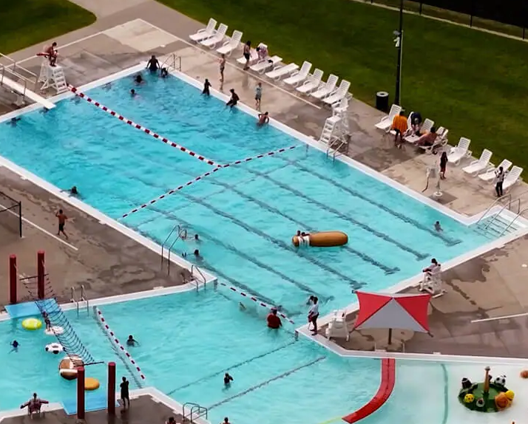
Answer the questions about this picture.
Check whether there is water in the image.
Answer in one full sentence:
Yes, water can be seen from above here.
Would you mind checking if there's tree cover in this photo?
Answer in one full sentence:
No, tree cover can't be seen anywhere here.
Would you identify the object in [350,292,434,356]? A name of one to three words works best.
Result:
umbrella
